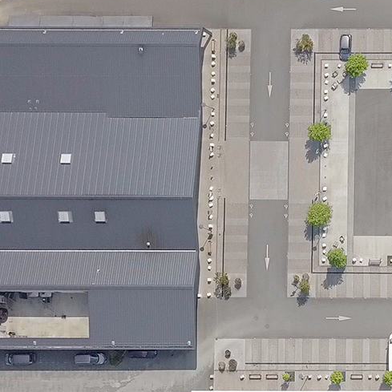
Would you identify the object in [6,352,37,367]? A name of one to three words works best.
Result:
car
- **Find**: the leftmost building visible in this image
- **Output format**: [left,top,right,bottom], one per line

[0,27,205,351]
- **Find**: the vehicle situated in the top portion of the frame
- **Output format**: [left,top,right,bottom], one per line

[339,35,352,60]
